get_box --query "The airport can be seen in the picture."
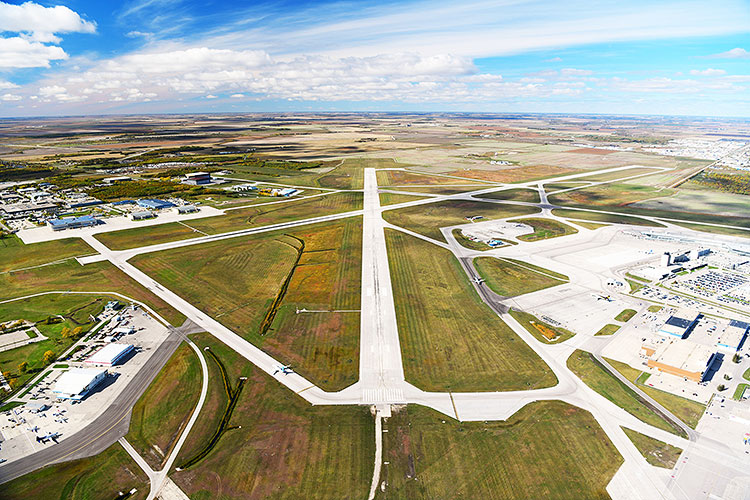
[0,165,750,500]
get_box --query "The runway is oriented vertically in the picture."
[359,168,407,403]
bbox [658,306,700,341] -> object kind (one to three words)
hangar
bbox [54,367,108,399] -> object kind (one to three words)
hangar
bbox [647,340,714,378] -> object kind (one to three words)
building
